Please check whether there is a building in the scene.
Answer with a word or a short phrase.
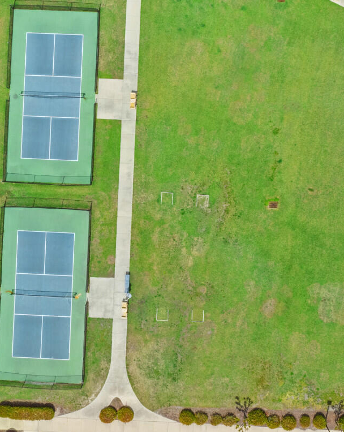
No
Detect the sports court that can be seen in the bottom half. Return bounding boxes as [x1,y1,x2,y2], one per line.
[0,207,89,384]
